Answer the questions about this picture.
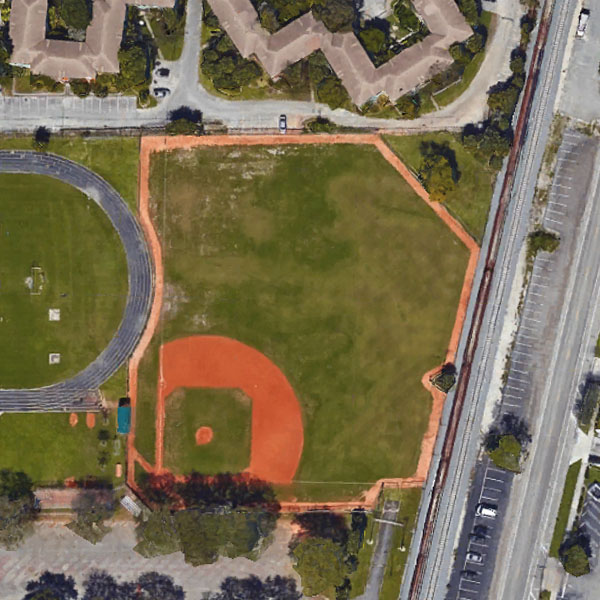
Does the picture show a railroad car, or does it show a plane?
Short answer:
railroad car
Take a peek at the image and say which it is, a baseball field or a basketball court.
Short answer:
baseball field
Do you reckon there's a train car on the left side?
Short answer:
No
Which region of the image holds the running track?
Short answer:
left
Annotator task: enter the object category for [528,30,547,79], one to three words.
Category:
rail car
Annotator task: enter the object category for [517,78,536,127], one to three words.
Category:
rail car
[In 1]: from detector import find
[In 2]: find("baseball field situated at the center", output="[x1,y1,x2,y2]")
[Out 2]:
[127,134,481,513]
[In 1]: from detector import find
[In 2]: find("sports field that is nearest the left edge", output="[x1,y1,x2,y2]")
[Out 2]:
[0,173,130,389]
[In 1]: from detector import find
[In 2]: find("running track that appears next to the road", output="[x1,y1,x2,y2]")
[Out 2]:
[0,151,152,412]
